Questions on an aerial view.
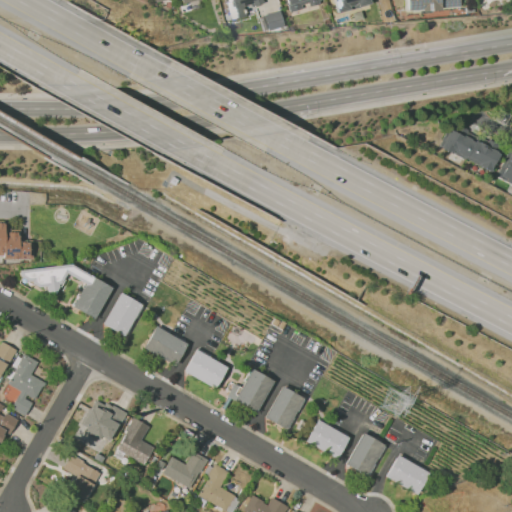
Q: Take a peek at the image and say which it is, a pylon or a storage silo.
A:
pylon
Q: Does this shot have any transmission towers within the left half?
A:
No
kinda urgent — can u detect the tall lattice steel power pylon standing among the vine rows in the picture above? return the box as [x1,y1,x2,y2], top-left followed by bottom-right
[380,388,416,416]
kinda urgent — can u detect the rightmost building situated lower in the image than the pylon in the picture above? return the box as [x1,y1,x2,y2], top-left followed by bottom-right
[384,454,428,493]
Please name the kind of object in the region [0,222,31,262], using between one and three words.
building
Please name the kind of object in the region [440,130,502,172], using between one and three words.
house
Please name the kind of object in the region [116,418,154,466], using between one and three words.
house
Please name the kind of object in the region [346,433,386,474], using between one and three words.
building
